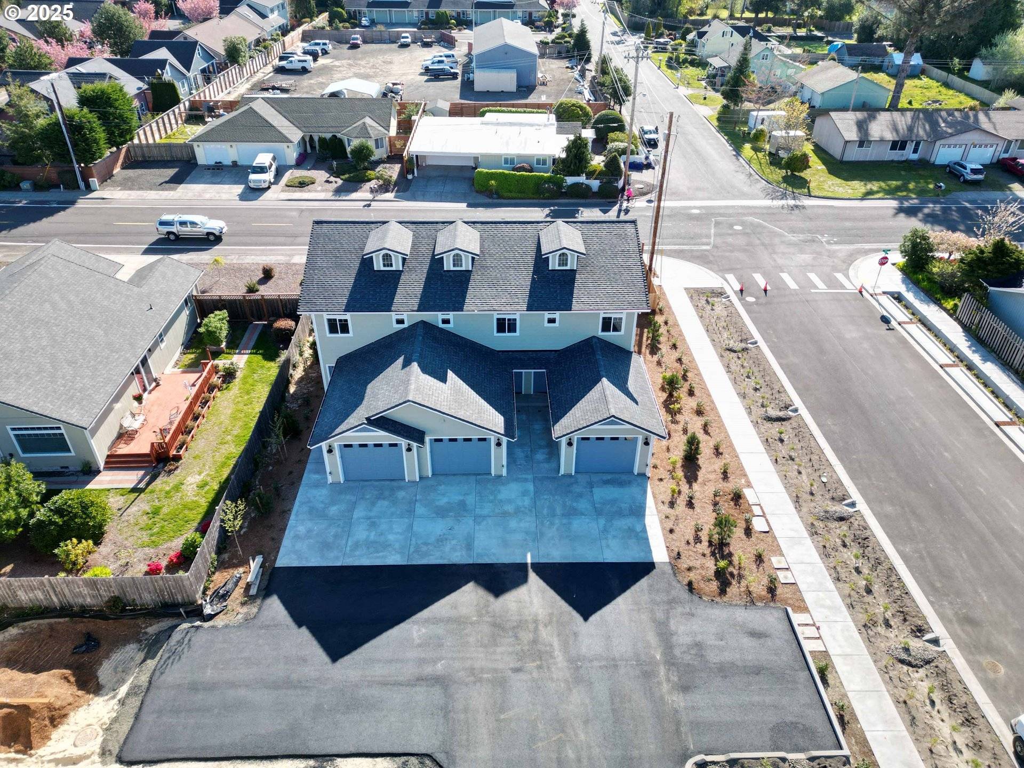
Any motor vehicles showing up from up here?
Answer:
Yes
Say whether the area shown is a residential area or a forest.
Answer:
residential area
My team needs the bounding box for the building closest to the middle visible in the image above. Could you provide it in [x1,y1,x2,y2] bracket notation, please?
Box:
[298,211,669,483]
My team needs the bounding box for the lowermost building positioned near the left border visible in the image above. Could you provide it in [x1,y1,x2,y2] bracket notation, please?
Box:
[0,240,205,469]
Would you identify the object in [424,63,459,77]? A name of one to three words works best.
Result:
vehicle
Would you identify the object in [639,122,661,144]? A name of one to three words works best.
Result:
car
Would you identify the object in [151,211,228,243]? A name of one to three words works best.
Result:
truck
